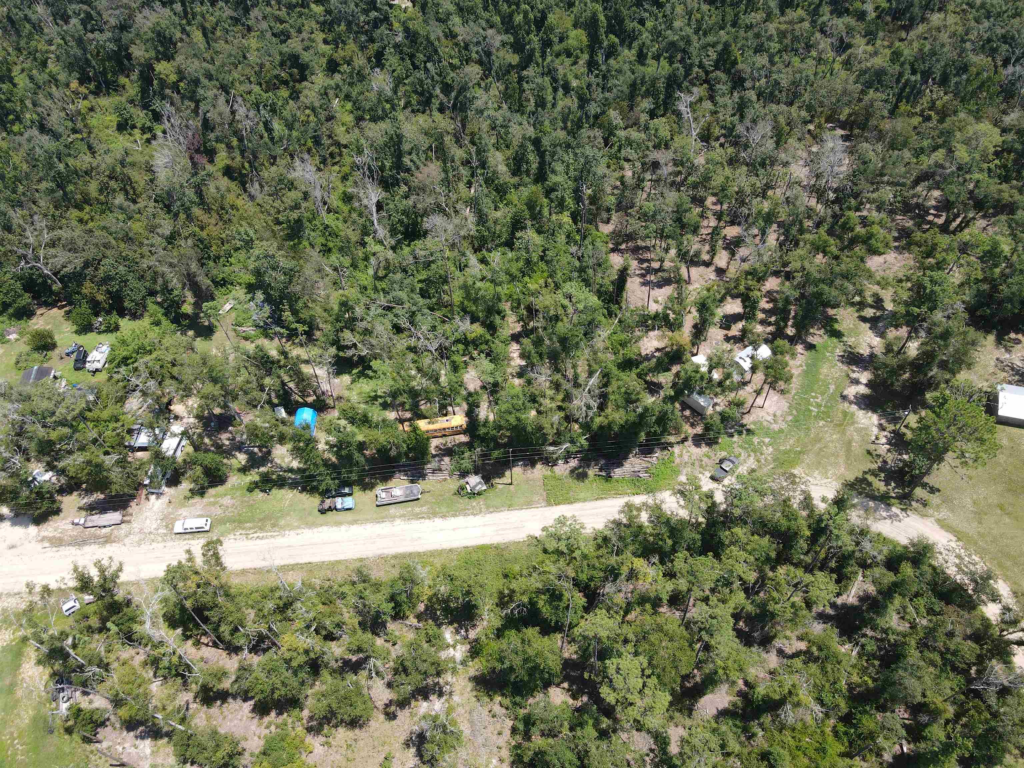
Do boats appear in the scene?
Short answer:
Yes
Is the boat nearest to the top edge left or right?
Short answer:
left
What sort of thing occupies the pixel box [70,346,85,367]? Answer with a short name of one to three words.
car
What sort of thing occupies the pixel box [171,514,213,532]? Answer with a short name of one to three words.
car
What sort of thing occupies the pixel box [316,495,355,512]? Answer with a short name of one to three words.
vehicle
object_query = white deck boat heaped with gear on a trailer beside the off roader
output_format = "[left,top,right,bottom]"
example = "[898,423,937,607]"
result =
[85,342,108,373]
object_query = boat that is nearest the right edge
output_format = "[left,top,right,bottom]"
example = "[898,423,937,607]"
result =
[374,484,430,503]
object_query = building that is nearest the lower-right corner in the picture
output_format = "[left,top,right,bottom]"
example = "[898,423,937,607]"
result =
[990,386,1024,429]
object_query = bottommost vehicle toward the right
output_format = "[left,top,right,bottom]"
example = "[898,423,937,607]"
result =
[714,456,742,483]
